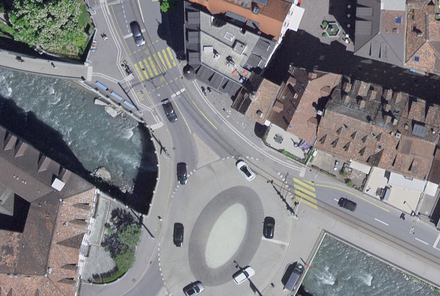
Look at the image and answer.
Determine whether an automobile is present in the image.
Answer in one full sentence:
Yes, I can see an automobile in this picture.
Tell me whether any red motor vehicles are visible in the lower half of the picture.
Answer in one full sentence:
No, no red motor vehicle is visible in the lower half of the picture.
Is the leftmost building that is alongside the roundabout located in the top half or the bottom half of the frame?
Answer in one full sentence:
You can find the leftmost building that is alongside the roundabout in the bottom half.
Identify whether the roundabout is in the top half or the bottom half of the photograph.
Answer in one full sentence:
You can find the roundabout in the bottom half.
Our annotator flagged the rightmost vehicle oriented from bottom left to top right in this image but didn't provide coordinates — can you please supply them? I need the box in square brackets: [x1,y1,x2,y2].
[282,262,303,290]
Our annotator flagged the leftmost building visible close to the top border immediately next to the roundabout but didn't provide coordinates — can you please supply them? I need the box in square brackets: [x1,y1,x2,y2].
[180,0,306,100]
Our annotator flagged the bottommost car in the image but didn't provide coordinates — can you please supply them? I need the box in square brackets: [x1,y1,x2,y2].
[182,281,204,296]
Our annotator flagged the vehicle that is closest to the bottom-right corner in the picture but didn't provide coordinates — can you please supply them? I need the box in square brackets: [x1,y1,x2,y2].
[336,196,357,212]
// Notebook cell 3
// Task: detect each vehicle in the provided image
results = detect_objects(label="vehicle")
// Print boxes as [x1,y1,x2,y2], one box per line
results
[172,223,182,246]
[231,266,254,284]
[282,262,303,290]
[160,98,178,122]
[176,162,187,184]
[262,216,274,239]
[235,160,255,181]
[336,196,357,212]
[128,20,146,45]
[182,281,204,296]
